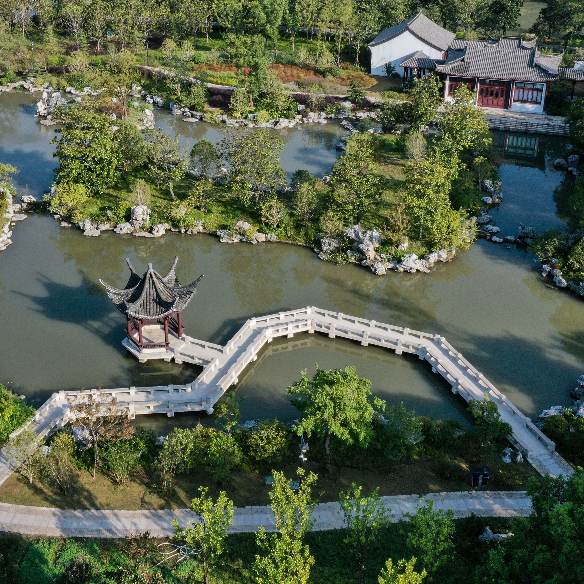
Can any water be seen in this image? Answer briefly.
Yes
